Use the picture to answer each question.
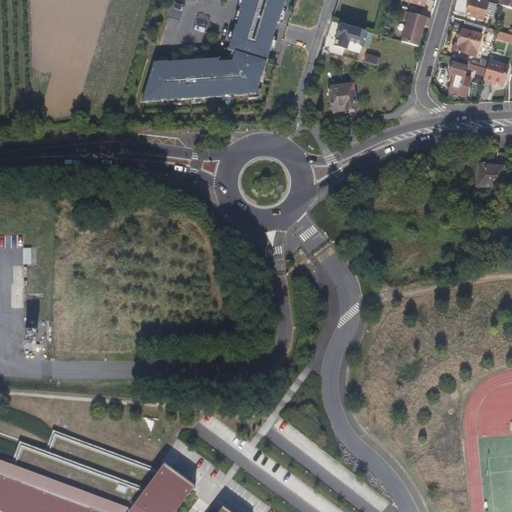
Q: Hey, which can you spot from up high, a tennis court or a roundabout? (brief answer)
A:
roundabout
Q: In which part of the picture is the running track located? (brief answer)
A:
bottom right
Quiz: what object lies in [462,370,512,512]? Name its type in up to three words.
running track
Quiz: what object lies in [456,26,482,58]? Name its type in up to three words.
house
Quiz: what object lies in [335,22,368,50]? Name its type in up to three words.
house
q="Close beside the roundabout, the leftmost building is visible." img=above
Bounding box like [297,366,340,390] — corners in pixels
[142,0,284,104]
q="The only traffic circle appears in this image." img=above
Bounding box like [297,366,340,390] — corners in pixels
[215,132,315,232]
